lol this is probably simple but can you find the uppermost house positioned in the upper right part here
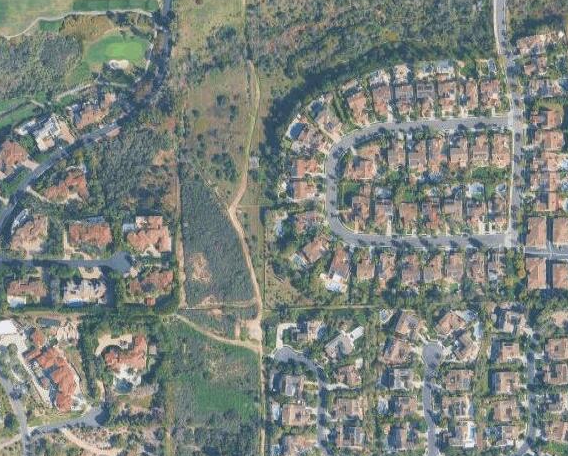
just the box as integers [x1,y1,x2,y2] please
[515,31,556,54]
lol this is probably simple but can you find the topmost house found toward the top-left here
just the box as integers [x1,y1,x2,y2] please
[74,88,119,131]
